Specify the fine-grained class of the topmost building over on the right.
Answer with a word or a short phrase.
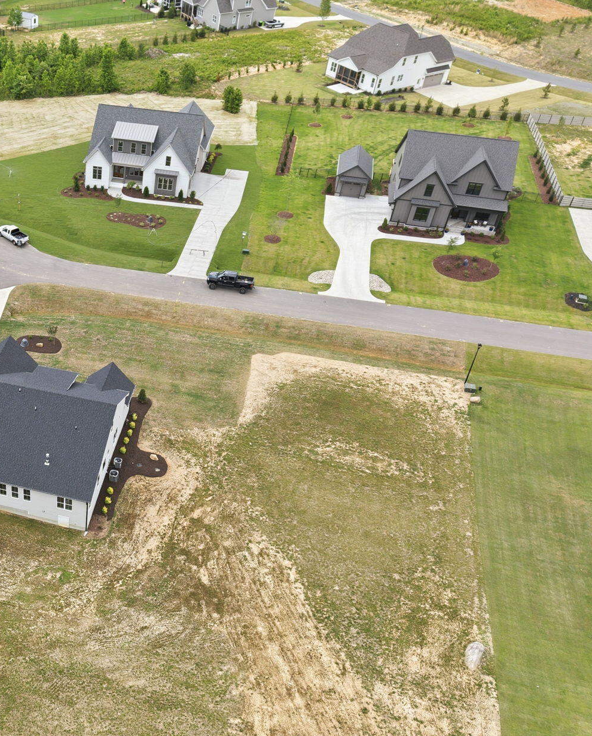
residential house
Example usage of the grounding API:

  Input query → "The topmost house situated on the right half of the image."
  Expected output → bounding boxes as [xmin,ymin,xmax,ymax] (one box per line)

[325,23,459,93]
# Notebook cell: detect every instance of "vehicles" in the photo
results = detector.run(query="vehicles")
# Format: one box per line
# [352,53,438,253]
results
[264,18,286,28]
[205,270,258,296]
[0,225,32,247]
